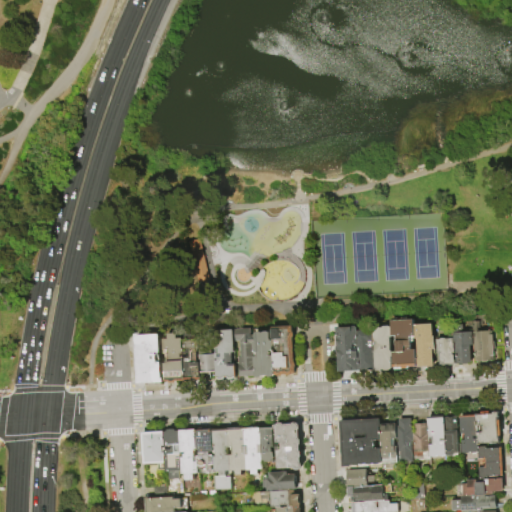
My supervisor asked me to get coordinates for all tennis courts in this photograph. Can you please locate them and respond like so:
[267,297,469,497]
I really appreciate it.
[414,228,440,278]
[383,229,409,280]
[322,233,348,284]
[353,231,379,282]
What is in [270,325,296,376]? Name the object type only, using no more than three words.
building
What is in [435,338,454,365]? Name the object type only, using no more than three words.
house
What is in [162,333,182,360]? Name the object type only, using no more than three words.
house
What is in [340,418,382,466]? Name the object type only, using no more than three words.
building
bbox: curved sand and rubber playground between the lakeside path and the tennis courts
[212,204,312,304]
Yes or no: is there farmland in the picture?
No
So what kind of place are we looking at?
residential area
